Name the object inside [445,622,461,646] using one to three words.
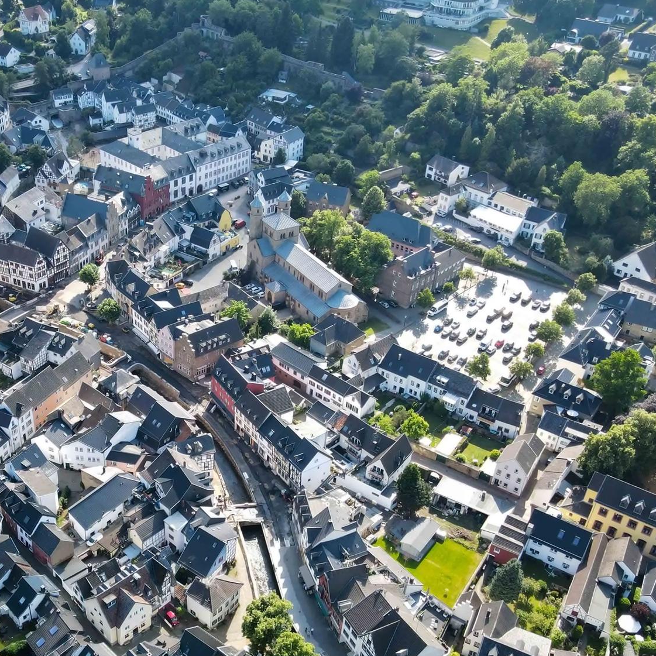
car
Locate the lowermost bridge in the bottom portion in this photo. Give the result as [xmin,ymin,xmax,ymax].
[230,498,264,526]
